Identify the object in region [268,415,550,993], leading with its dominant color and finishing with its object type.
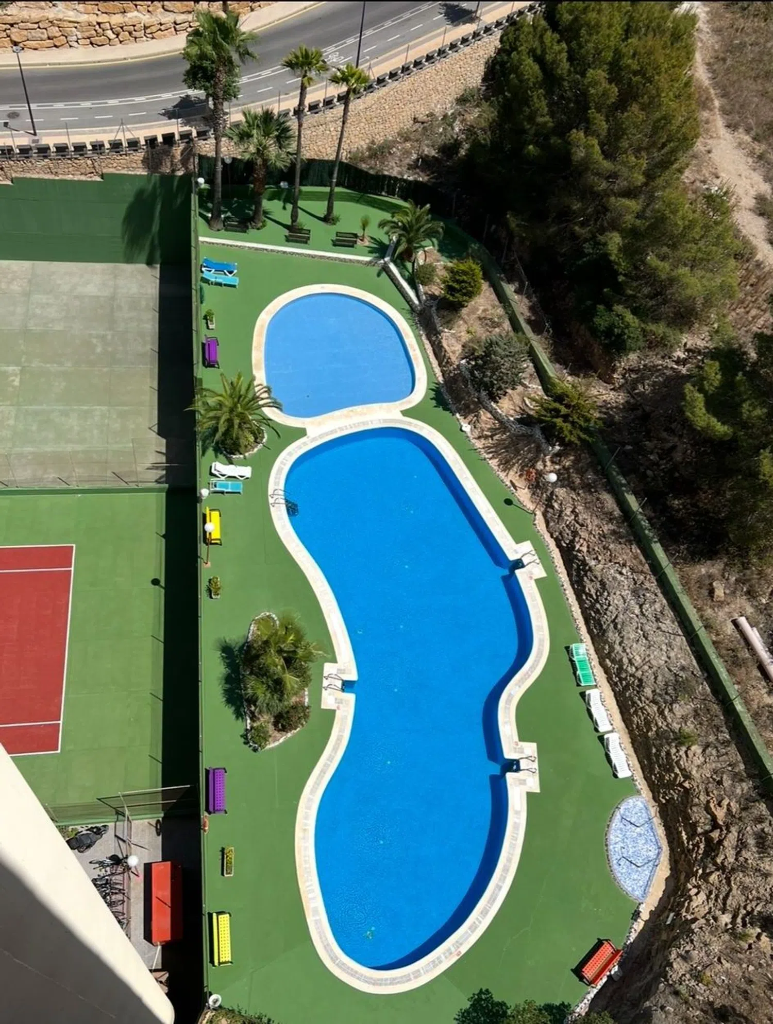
blue swimming pool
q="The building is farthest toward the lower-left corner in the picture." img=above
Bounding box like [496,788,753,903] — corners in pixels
[0,745,169,1024]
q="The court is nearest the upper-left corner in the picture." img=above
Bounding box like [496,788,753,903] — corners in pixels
[0,259,197,494]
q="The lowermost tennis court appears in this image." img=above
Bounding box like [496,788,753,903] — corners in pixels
[0,491,202,821]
